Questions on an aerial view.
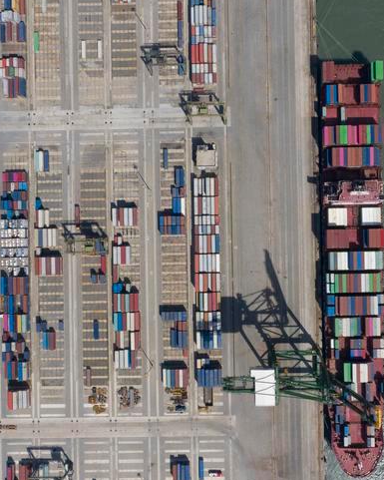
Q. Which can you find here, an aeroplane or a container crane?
container crane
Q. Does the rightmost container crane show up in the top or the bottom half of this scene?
bottom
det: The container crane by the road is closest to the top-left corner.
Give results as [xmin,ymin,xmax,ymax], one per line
[146,52,187,79]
